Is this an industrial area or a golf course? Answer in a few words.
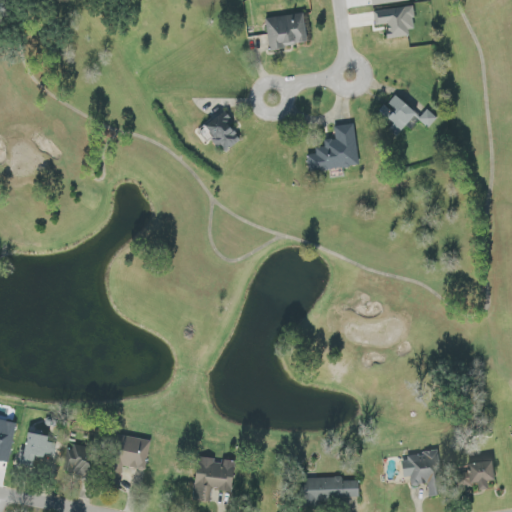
golf course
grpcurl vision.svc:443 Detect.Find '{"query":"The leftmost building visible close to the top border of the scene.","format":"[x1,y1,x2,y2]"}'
[266,12,307,51]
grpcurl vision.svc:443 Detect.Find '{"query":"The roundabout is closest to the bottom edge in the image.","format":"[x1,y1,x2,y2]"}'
[250,78,292,120]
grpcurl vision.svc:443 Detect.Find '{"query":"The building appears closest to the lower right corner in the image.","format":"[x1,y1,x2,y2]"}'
[459,459,496,490]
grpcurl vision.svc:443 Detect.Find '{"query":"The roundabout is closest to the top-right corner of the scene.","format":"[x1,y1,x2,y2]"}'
[328,52,372,97]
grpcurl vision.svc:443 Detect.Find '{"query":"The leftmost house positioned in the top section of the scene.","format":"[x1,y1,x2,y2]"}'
[206,112,242,151]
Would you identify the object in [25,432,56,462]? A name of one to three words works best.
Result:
house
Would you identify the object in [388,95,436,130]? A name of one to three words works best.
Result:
house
